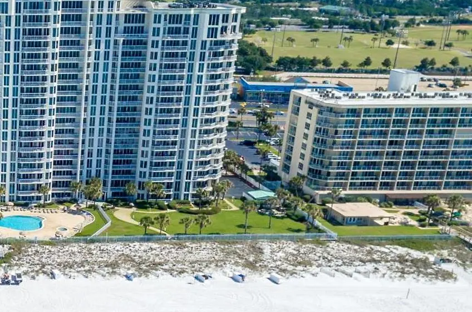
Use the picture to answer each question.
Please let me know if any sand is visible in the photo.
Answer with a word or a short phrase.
Yes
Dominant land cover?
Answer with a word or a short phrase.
buildings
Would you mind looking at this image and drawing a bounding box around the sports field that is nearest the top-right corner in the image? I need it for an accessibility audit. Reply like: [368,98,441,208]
[354,23,472,45]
